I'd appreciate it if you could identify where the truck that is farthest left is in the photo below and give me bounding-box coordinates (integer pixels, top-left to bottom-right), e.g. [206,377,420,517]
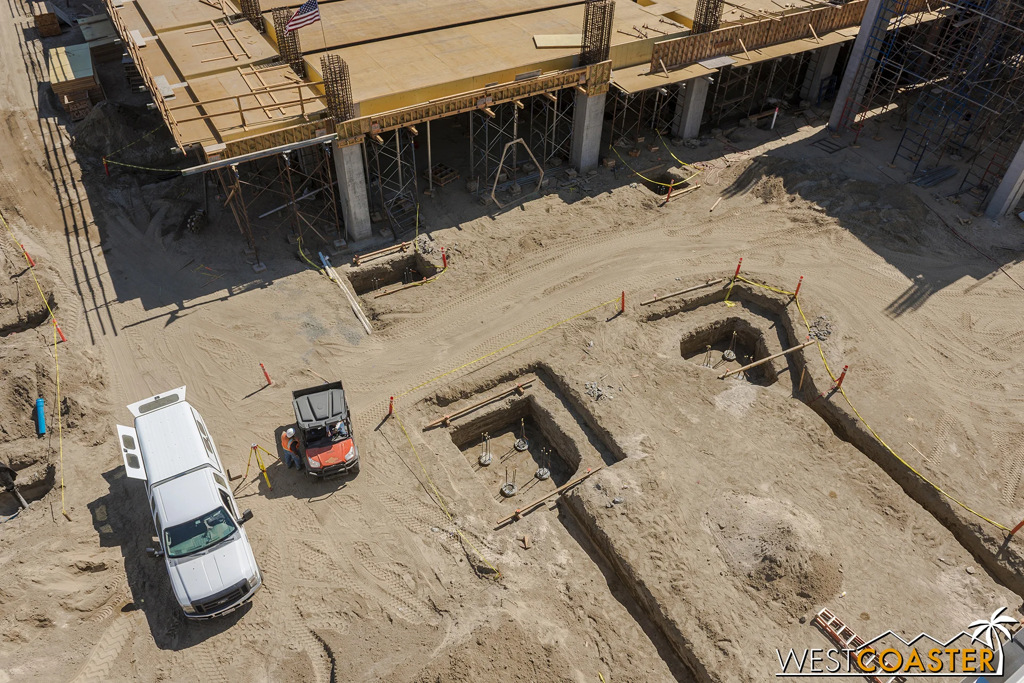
[115,386,262,621]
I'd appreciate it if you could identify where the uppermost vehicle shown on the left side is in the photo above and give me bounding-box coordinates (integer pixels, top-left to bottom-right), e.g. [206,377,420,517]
[289,382,359,483]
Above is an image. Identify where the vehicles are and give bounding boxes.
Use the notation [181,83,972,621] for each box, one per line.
[289,382,359,483]
[115,386,262,621]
